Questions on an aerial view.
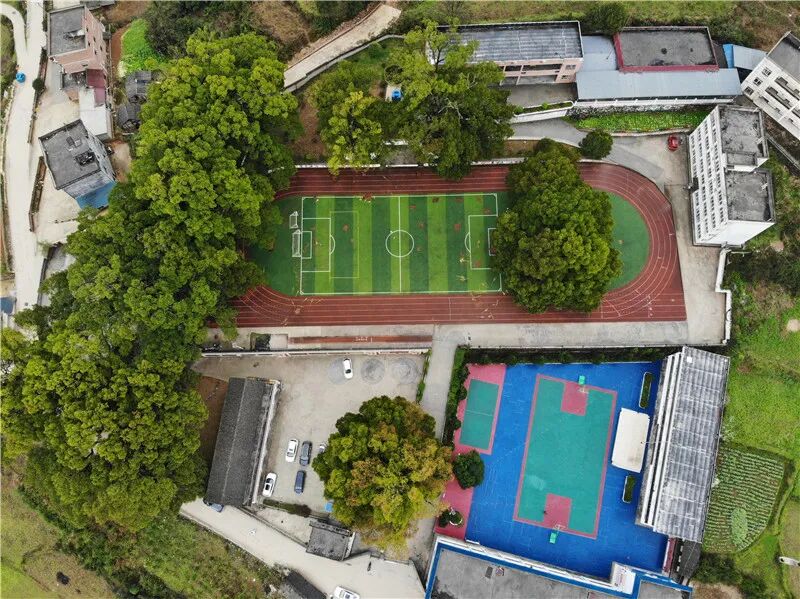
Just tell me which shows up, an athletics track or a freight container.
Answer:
athletics track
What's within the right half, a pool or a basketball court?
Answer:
basketball court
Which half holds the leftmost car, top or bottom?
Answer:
bottom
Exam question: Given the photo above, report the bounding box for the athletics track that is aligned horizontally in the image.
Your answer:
[212,164,687,324]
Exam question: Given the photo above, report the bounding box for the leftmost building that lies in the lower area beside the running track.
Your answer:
[205,376,284,507]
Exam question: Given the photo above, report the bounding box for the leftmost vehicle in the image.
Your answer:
[200,494,223,514]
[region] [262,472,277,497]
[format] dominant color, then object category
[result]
white car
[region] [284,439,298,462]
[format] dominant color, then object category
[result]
white car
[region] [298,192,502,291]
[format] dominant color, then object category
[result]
green sports field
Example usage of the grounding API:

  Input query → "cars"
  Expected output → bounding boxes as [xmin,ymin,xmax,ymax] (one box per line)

[284,439,298,462]
[334,585,361,599]
[262,472,277,497]
[293,469,307,496]
[298,441,313,466]
[667,132,678,151]
[200,494,223,514]
[341,358,352,379]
